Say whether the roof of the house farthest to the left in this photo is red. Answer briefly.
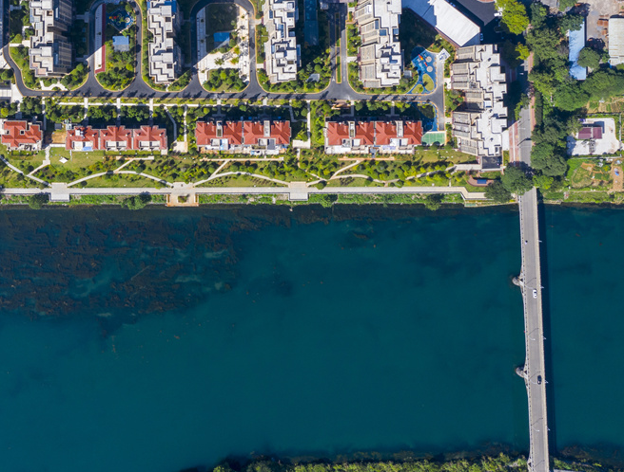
Yes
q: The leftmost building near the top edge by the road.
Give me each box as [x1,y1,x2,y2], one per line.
[29,0,76,80]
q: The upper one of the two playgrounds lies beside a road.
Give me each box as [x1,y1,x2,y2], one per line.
[106,7,135,32]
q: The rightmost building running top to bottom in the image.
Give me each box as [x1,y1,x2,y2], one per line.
[605,17,624,58]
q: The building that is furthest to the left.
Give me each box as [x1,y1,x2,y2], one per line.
[1,120,46,150]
